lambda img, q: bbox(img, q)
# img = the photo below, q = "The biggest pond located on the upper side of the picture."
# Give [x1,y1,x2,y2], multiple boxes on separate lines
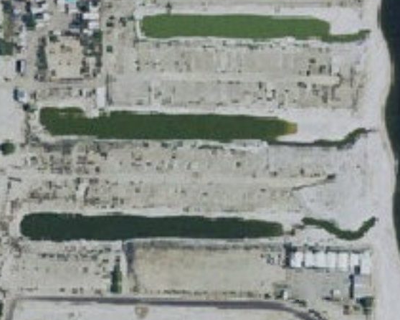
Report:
[39,106,375,148]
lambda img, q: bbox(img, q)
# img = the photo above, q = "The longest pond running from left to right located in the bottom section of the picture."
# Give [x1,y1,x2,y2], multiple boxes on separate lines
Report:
[21,211,283,242]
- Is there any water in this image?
Yes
